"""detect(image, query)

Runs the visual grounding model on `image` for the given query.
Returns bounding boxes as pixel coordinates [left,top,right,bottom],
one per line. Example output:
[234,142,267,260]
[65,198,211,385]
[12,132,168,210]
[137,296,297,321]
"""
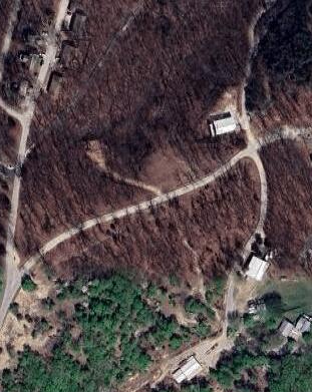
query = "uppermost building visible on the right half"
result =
[210,116,238,136]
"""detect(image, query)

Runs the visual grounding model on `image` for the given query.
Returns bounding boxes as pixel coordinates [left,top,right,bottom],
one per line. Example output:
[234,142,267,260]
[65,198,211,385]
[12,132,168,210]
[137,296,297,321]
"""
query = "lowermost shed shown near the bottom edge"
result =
[172,357,201,383]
